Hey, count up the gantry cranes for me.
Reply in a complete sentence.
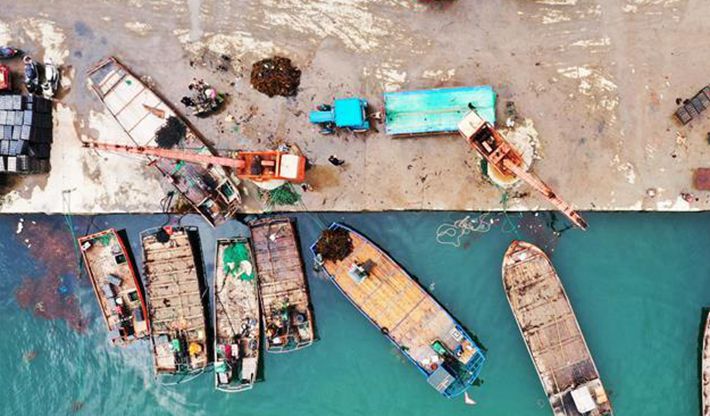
The count of gantry cranes comes to 2.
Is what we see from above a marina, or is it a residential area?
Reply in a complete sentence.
The picture captures a marina.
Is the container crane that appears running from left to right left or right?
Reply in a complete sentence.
It is on the left.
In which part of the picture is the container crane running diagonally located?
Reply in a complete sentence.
Look in the right portion of the view to spot the container crane running diagonally.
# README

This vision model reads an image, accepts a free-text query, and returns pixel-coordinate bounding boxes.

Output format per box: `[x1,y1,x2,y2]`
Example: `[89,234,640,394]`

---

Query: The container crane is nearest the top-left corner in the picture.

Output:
[82,142,308,198]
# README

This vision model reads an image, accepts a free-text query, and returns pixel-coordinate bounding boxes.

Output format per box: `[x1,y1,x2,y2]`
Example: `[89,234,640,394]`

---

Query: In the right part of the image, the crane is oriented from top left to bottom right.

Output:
[456,114,587,229]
